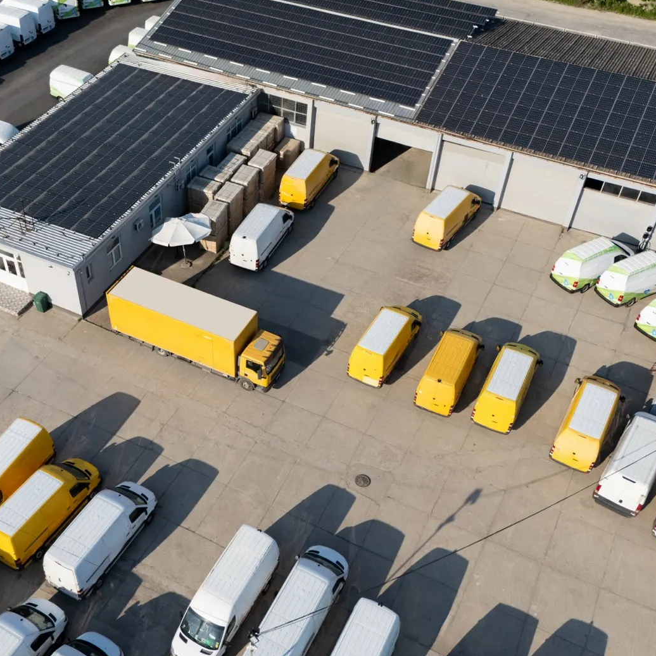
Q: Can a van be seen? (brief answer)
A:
Yes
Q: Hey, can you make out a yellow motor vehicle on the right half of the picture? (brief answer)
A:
Yes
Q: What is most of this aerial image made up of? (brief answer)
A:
paved ground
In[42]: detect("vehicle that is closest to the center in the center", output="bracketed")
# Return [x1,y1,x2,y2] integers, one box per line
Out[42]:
[347,303,420,390]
